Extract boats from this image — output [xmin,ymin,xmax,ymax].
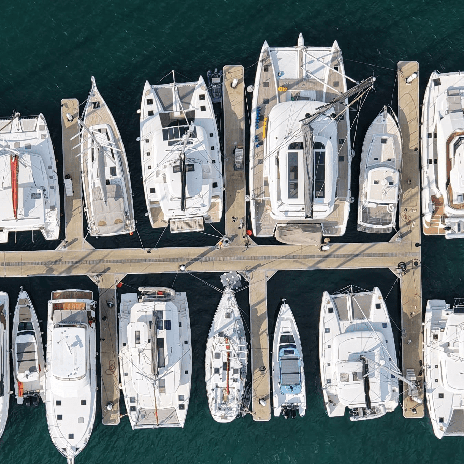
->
[347,405,386,420]
[12,286,46,406]
[47,290,96,464]
[0,291,9,432]
[208,72,224,101]
[422,297,464,438]
[120,292,191,428]
[357,106,405,233]
[206,282,253,424]
[140,70,222,233]
[65,76,135,236]
[273,297,305,418]
[0,110,60,243]
[249,34,378,236]
[442,217,464,239]
[316,285,415,417]
[418,69,464,235]
[239,382,253,417]
[138,287,174,301]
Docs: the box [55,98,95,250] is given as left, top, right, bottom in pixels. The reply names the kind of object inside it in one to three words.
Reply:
pier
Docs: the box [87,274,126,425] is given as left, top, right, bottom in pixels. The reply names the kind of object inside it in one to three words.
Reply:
pier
